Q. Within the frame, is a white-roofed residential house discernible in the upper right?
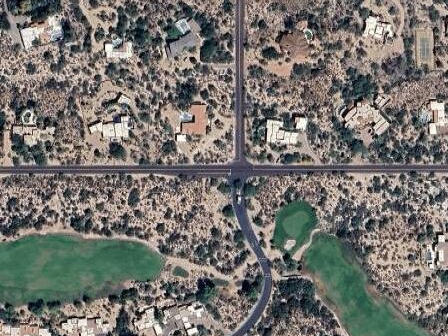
Yes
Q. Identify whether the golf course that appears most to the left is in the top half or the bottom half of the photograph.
bottom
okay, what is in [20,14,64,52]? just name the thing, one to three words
house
